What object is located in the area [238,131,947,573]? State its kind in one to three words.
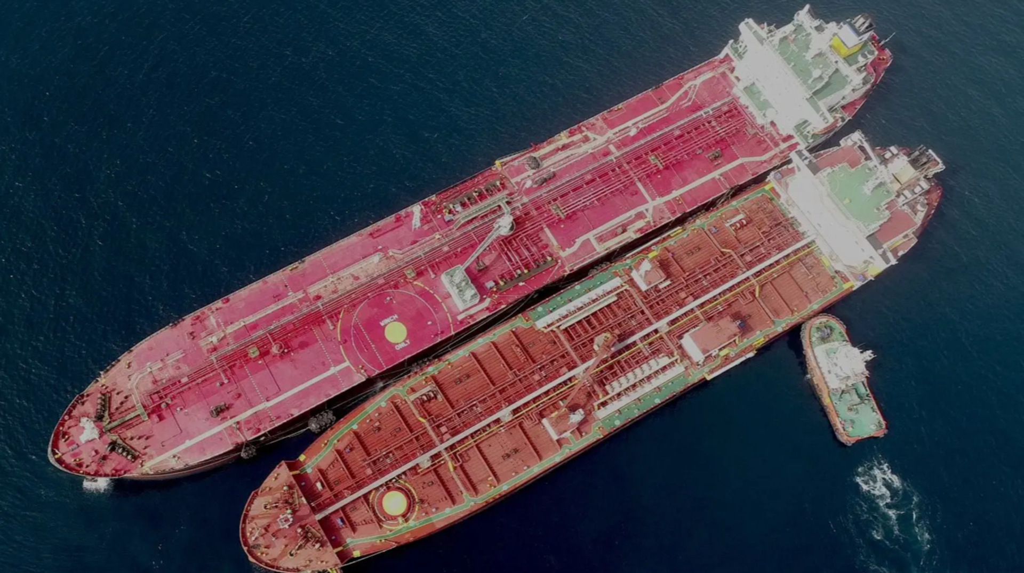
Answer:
ship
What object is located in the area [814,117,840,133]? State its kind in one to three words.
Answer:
boat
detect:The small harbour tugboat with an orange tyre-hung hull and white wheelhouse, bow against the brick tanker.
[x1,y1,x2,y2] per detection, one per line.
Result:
[799,314,886,443]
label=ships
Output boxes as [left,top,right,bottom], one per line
[238,131,947,573]
[43,3,894,481]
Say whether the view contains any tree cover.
No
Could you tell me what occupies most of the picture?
water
